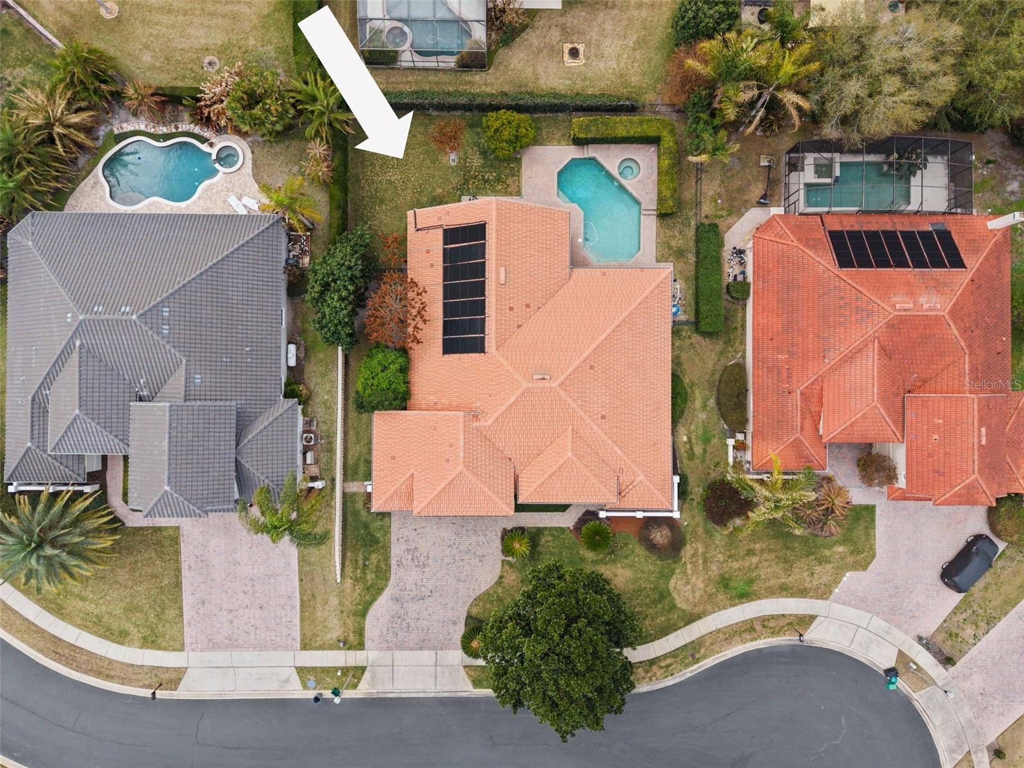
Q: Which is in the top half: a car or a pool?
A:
pool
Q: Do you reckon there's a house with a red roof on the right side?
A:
Yes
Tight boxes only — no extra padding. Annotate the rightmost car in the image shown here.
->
[938,532,1001,595]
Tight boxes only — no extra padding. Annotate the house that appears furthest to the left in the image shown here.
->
[1,210,301,520]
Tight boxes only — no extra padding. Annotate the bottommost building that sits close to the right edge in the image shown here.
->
[747,204,1024,508]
